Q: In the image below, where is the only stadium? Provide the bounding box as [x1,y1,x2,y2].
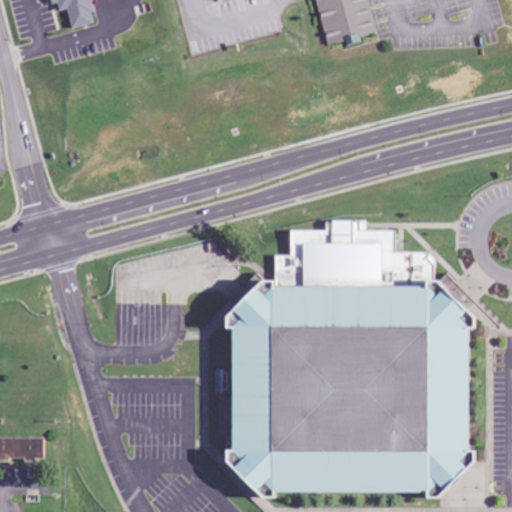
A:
[226,281,478,500]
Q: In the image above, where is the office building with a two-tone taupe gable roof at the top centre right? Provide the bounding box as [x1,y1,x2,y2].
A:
[316,0,378,48]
